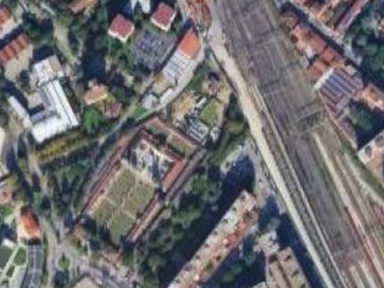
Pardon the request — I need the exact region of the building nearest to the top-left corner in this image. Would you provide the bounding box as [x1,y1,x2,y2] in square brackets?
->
[0,7,22,43]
